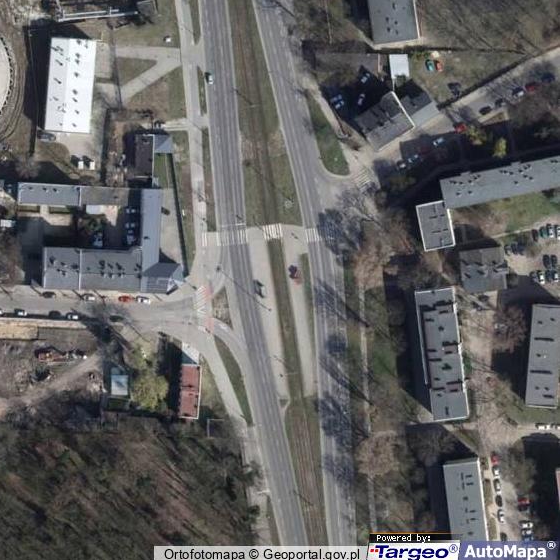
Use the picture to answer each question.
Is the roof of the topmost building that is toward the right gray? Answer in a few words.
Yes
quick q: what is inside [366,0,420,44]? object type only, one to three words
building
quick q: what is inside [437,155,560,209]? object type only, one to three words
building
